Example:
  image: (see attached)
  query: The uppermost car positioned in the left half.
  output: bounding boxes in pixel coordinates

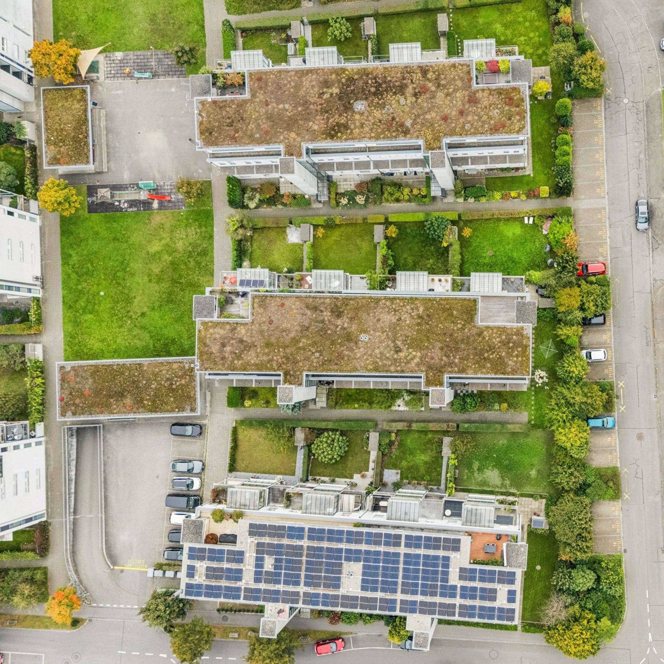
[170,423,203,437]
